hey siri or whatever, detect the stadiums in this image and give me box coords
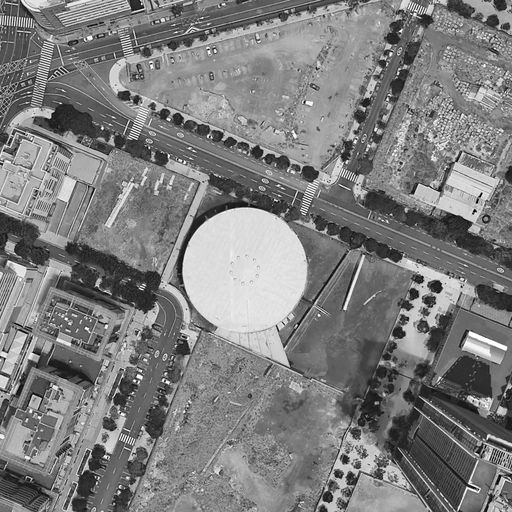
[179,203,312,366]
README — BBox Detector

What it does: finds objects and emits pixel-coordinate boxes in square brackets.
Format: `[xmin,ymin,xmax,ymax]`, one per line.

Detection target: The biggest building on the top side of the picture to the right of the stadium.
[434,152,500,226]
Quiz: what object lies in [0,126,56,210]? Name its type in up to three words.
building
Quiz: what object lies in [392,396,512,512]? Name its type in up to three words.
building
